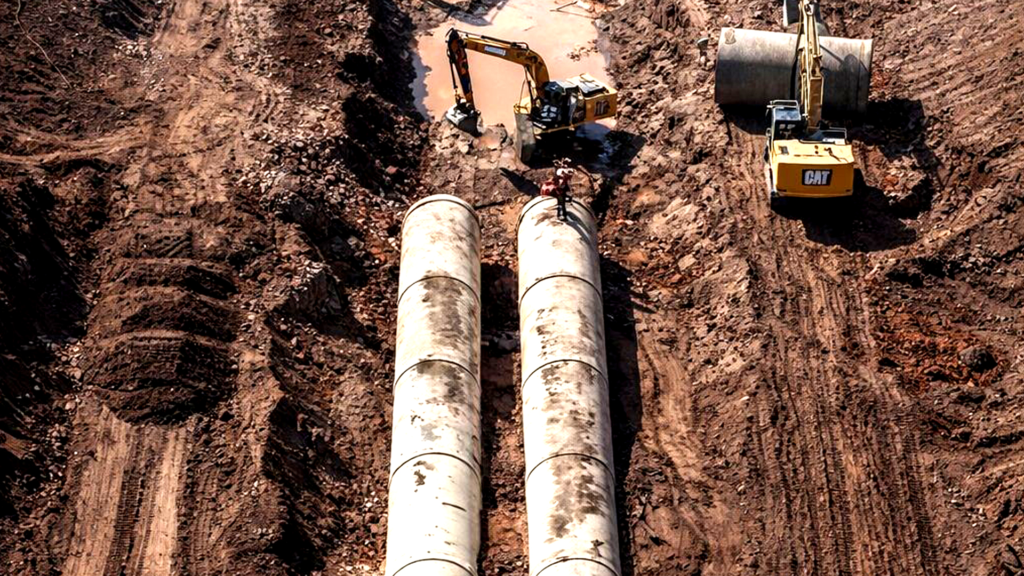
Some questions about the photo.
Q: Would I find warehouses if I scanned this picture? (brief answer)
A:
No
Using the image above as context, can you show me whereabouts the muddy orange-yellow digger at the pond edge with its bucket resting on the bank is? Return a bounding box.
[450,28,622,162]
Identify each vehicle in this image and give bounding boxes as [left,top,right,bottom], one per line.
[450,28,622,162]
[762,0,858,209]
